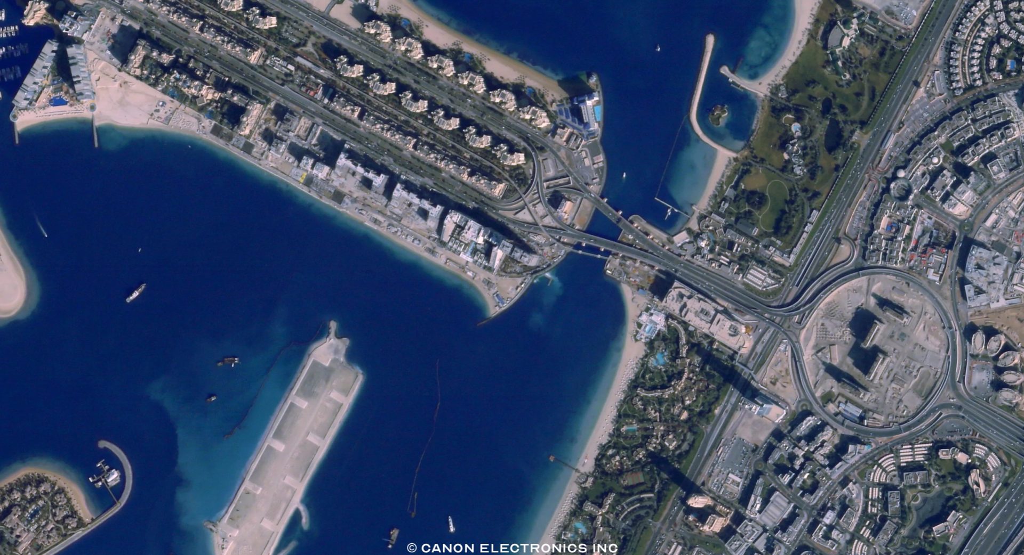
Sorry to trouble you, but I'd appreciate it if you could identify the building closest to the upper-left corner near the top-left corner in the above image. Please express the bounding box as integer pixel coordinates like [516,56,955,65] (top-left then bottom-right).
[23,0,54,28]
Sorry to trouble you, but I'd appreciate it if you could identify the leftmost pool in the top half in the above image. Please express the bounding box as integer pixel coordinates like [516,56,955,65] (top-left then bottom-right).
[48,95,69,107]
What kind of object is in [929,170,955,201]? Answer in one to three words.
building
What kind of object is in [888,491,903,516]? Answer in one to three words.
building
